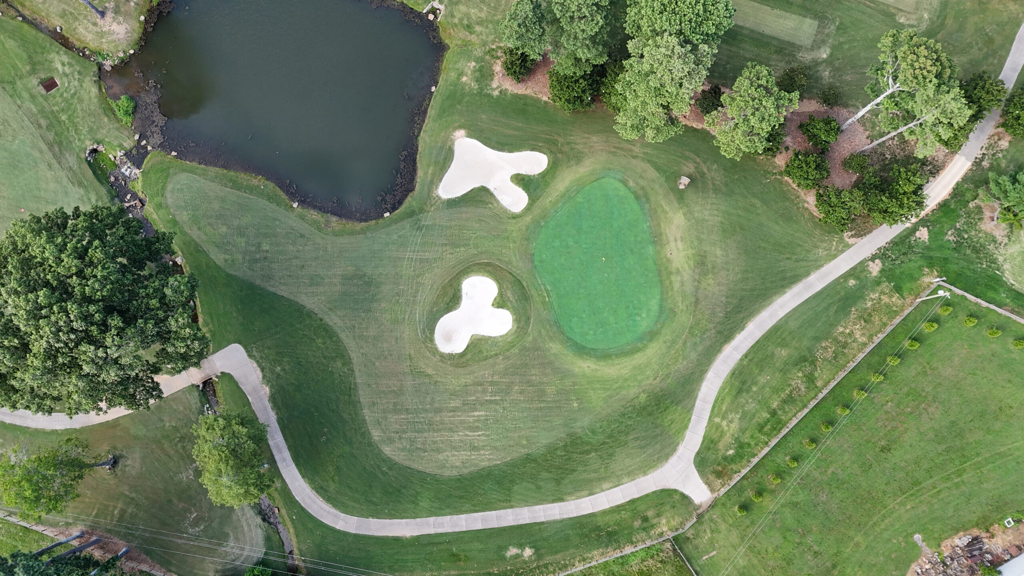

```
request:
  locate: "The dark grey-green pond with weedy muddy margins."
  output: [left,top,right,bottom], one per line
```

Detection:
[127,0,437,215]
